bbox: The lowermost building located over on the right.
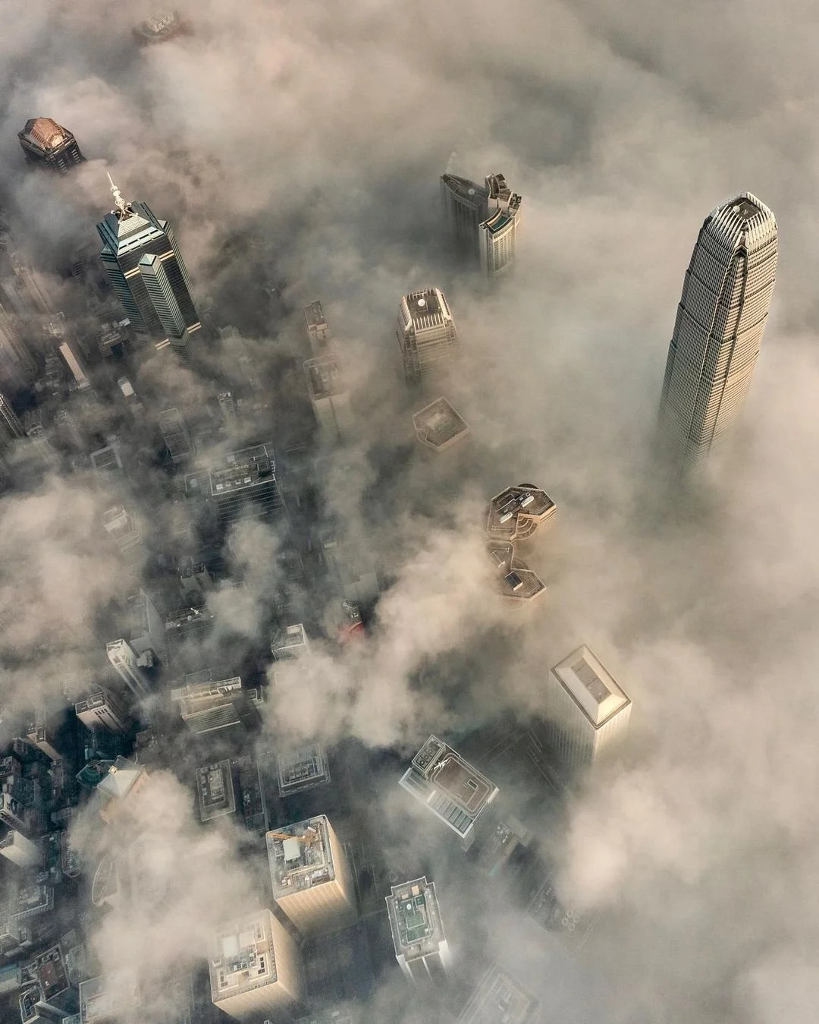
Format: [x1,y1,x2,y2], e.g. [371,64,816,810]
[457,964,542,1024]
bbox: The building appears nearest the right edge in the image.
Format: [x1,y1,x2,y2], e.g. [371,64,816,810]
[644,189,785,567]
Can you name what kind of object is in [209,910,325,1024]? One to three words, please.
building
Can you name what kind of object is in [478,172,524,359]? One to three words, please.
building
